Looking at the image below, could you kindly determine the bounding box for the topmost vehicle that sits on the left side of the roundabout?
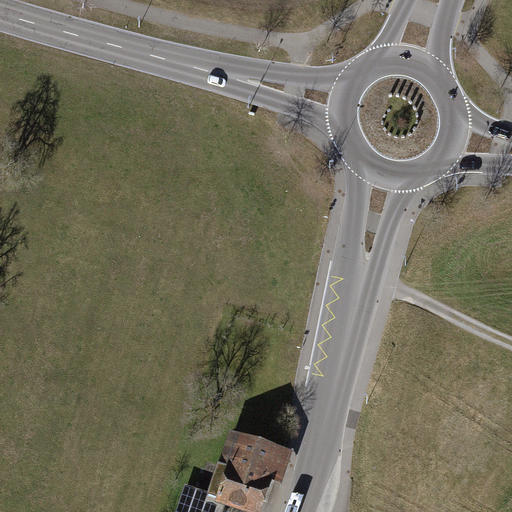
[206,76,226,88]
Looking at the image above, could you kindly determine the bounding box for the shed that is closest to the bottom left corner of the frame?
[176,484,218,512]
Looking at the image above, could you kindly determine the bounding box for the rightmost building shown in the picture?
[206,431,294,512]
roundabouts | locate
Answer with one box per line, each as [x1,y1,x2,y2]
[326,42,472,194]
